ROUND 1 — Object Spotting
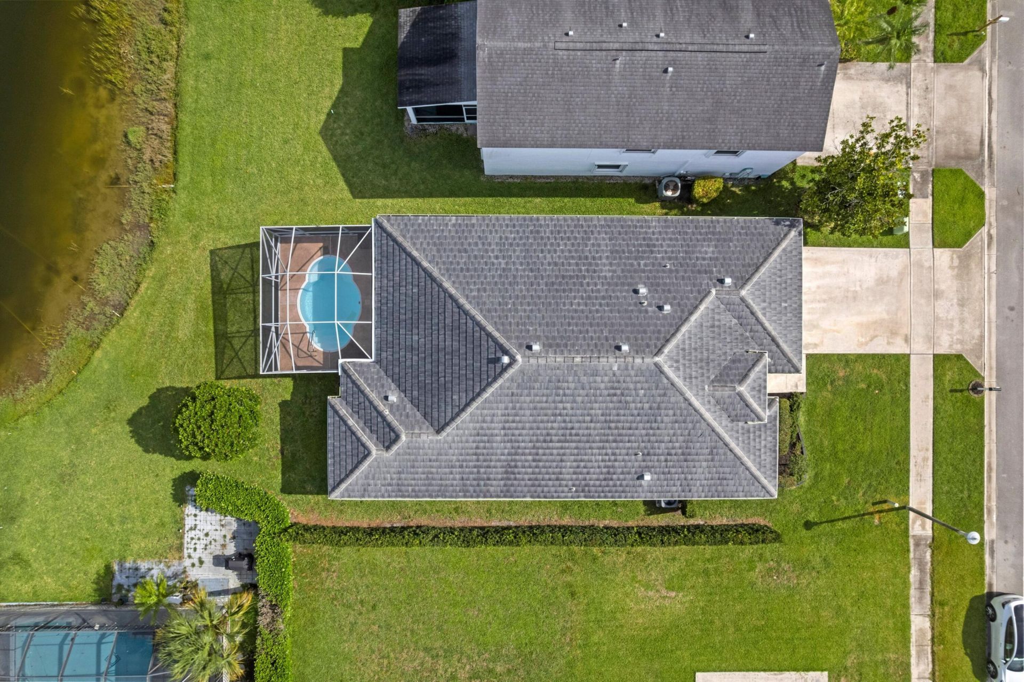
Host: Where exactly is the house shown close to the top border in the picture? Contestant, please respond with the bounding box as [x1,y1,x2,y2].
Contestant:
[398,0,841,180]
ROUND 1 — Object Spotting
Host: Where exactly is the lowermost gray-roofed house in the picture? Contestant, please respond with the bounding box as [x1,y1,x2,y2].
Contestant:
[326,213,805,501]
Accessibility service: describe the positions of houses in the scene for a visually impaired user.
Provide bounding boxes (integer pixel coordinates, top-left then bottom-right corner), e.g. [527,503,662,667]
[398,0,841,180]
[326,213,805,501]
